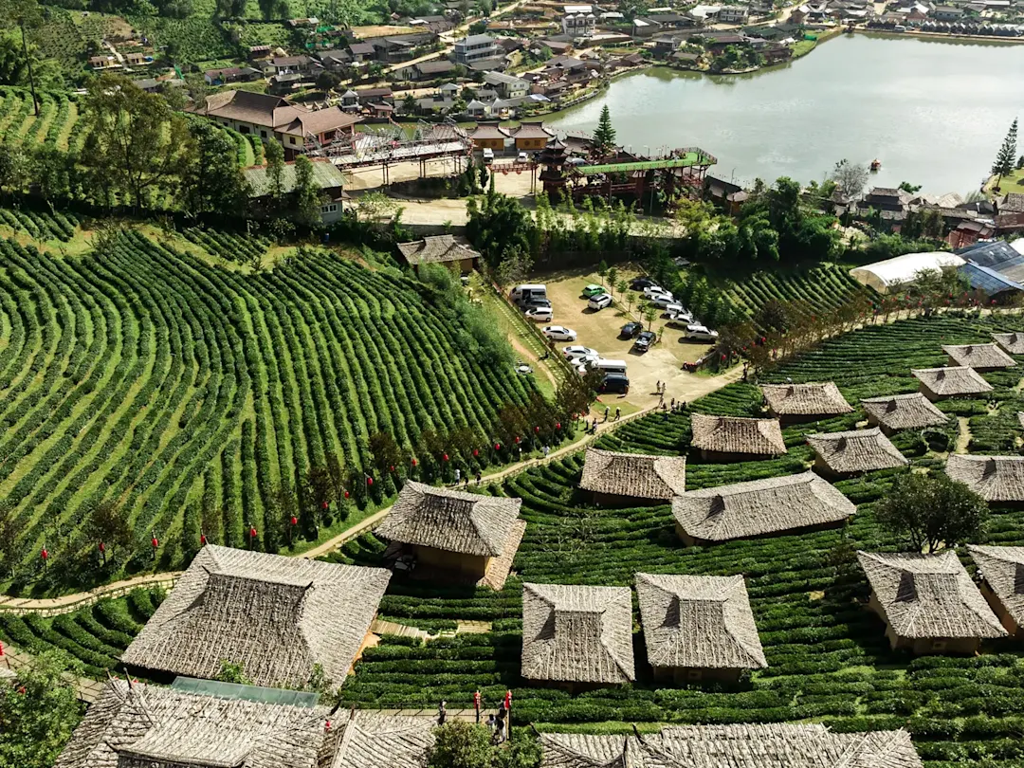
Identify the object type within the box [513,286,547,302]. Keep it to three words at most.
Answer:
vehicle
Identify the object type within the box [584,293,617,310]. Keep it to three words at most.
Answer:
car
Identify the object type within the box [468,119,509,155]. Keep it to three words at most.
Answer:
building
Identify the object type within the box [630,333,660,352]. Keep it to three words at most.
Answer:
vehicle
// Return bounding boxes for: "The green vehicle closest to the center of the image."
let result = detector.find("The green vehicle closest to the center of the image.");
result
[581,283,608,296]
